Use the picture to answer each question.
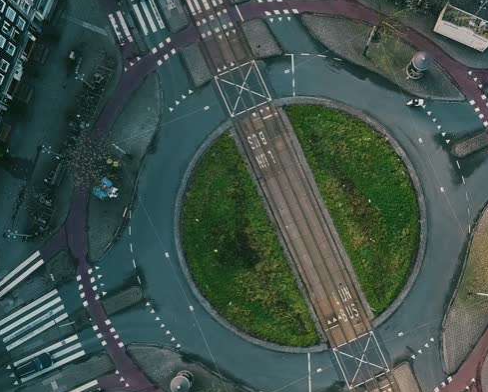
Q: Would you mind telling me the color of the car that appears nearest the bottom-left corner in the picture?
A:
black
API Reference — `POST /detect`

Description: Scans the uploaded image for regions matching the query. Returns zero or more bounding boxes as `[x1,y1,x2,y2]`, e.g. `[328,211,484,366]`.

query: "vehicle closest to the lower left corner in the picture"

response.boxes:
[10,352,52,380]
